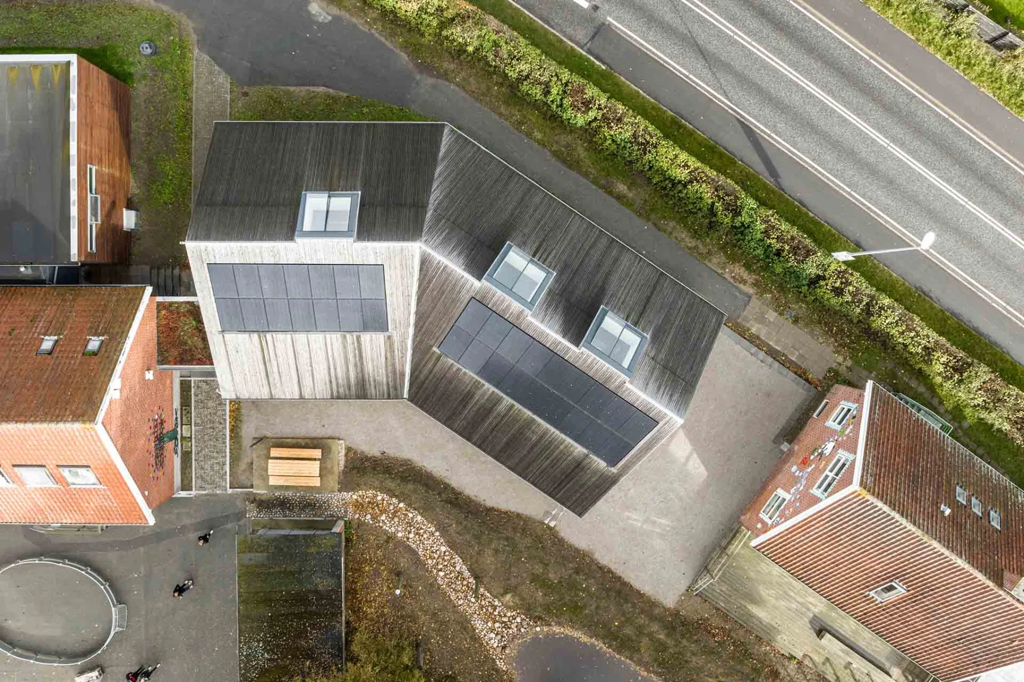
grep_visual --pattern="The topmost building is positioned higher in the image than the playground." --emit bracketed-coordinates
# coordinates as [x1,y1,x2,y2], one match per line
[0,54,132,267]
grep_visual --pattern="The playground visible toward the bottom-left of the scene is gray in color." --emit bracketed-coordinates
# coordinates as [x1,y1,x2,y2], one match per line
[0,493,249,682]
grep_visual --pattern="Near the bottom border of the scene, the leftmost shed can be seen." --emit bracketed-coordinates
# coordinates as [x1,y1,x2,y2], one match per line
[237,516,348,682]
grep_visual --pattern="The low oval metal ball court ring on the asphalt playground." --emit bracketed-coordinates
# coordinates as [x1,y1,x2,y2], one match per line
[0,555,120,666]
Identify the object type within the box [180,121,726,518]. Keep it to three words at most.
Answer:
building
